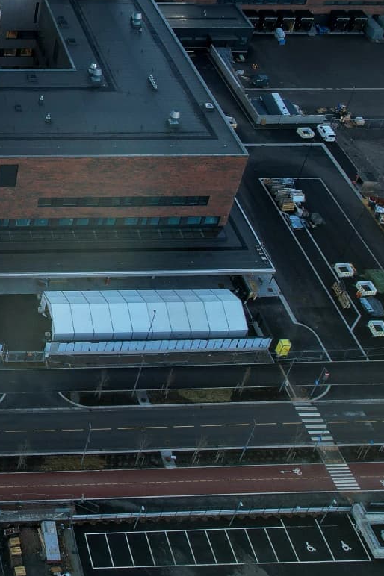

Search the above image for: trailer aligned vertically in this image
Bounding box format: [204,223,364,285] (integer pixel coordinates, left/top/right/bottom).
[44,519,65,564]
